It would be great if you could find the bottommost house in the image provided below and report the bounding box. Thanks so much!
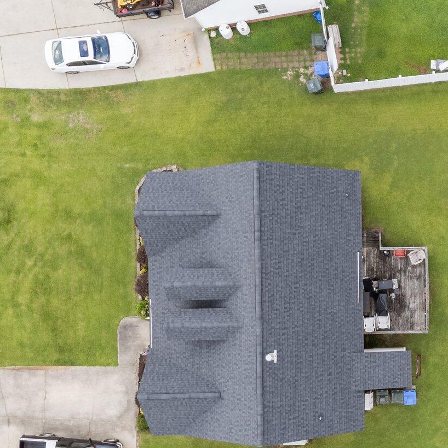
[133,160,413,447]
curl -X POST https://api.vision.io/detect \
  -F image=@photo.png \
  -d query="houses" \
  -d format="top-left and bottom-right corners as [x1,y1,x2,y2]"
[175,0,325,36]
[133,160,413,447]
